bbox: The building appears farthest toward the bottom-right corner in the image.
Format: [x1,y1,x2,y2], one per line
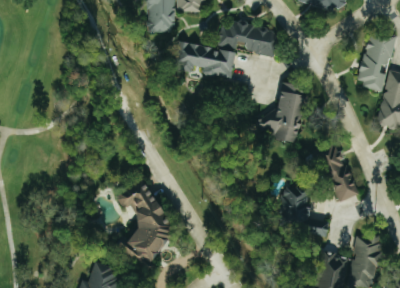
[352,238,383,288]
